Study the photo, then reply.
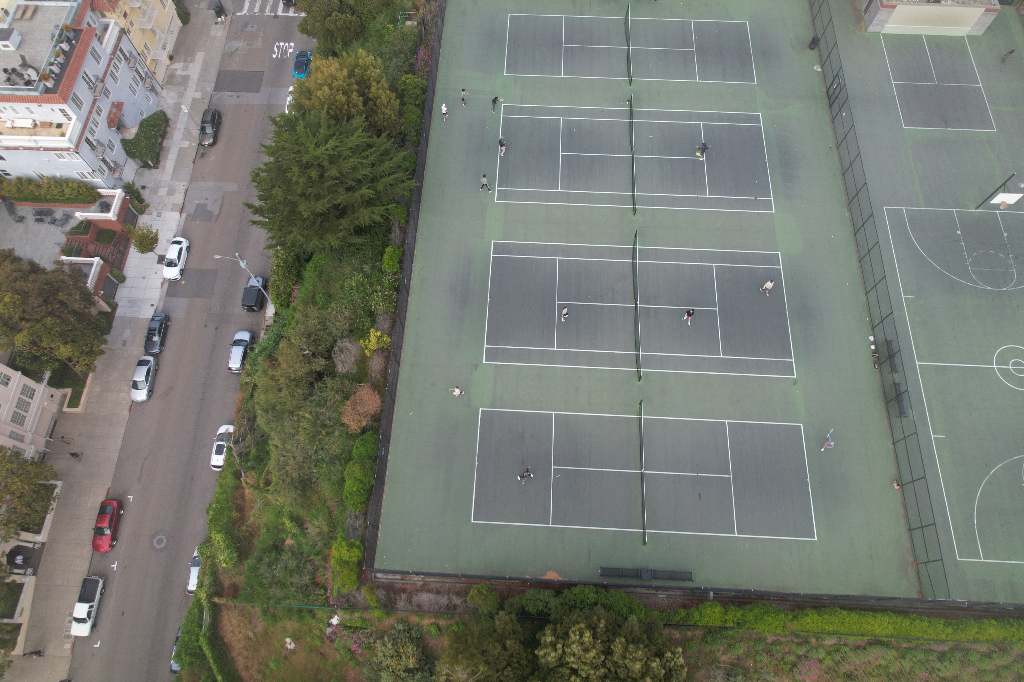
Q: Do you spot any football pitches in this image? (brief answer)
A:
No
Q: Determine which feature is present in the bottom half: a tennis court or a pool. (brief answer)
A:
tennis court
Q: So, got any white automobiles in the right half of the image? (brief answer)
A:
No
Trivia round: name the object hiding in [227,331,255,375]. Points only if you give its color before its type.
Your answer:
white car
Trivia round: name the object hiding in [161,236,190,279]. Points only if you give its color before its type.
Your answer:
white car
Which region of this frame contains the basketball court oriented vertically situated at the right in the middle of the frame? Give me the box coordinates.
[884,207,1024,564]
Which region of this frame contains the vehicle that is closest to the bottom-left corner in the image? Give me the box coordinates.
[68,575,107,639]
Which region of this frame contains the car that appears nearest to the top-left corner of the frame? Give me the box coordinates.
[194,108,221,147]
